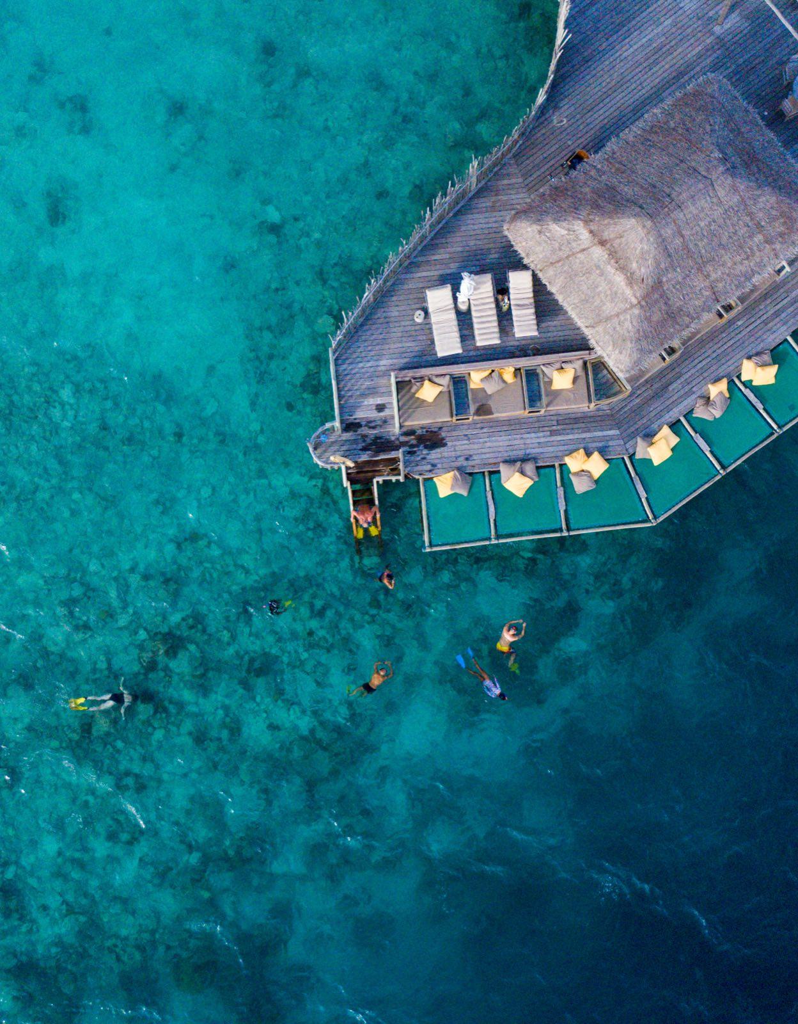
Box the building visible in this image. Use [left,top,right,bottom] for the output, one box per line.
[502,80,798,384]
